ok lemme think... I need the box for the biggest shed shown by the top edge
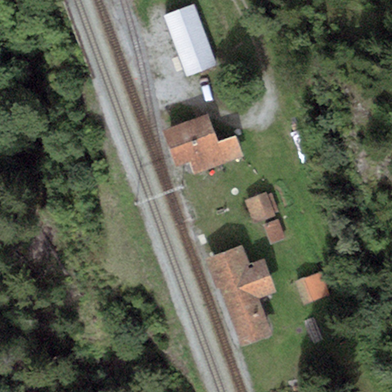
[164,4,216,77]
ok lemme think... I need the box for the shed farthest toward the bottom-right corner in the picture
[294,272,329,306]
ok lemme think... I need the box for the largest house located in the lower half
[205,246,276,348]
